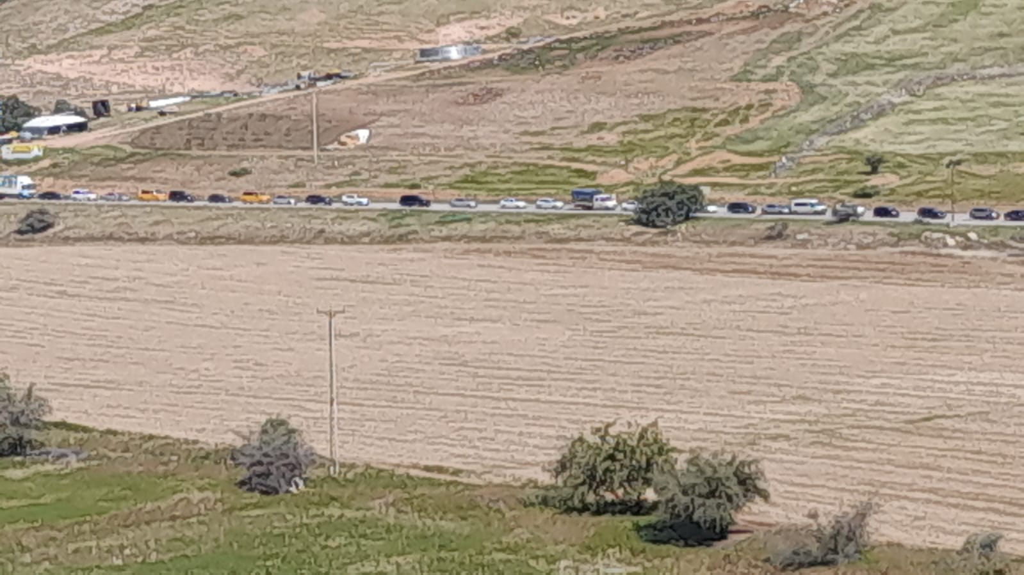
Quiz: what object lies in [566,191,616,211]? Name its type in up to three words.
vehicle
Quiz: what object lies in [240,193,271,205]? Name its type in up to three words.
vehicle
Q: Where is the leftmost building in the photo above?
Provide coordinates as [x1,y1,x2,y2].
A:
[20,113,92,136]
